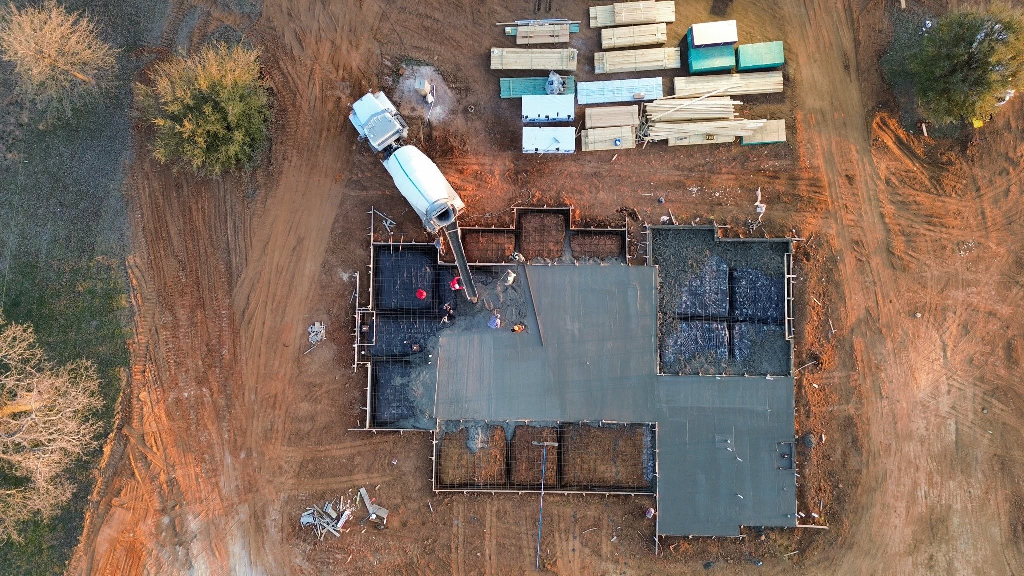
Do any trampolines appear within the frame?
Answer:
No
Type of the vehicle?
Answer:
truck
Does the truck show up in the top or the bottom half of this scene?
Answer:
top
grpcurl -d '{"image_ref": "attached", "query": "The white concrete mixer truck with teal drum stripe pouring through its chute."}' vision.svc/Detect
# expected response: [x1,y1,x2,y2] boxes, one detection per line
[347,90,478,301]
